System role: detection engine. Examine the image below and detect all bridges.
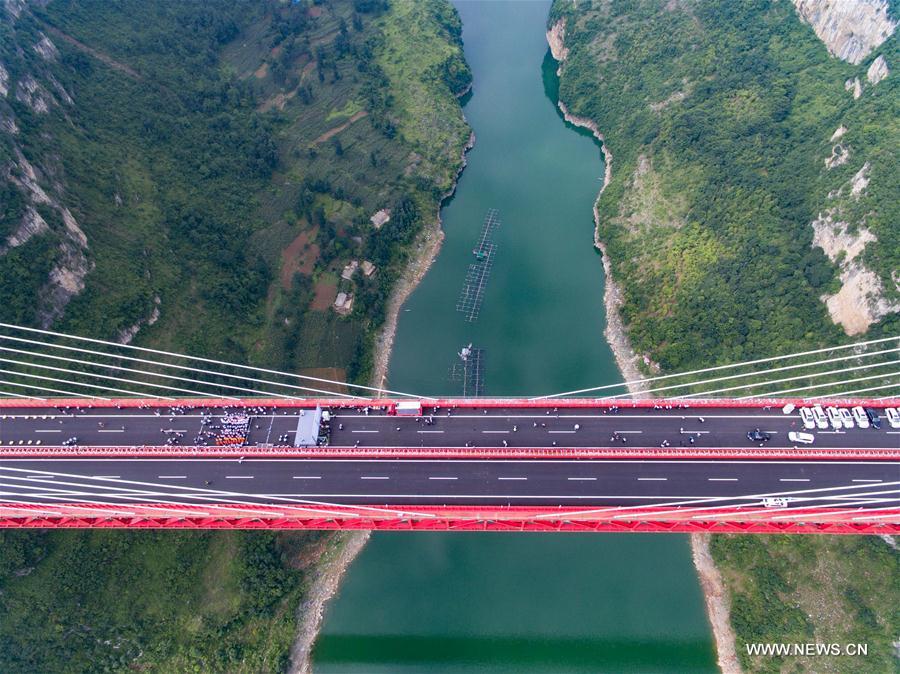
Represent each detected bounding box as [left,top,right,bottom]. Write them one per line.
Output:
[0,323,900,533]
